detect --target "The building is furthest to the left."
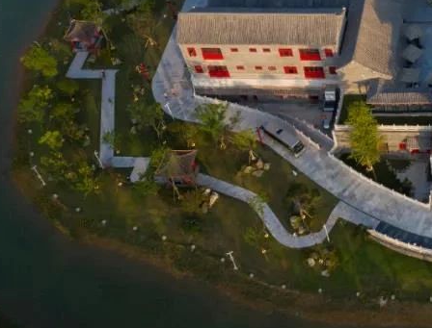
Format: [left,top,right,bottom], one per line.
[58,15,110,59]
